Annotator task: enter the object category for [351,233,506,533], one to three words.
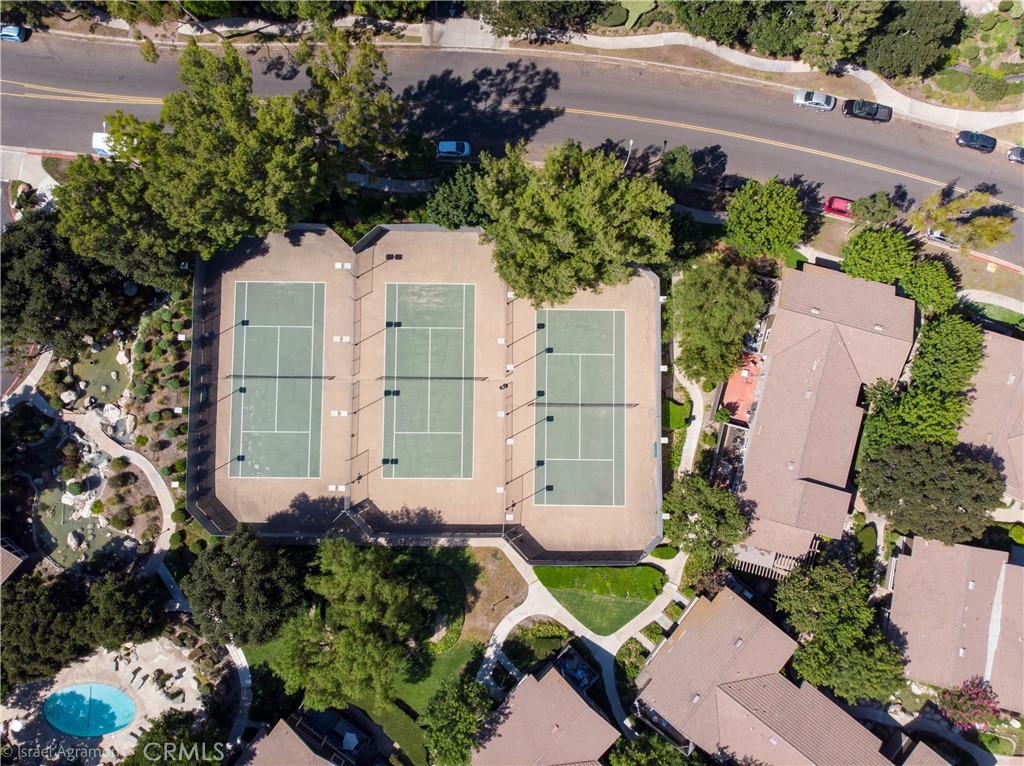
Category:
tennis court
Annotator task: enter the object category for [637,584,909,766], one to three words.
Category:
house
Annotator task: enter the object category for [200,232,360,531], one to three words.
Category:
tennis court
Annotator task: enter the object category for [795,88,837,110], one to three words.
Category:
car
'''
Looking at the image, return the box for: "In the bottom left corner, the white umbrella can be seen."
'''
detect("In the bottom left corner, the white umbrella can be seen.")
[9,716,32,734]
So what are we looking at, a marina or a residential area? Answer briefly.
residential area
